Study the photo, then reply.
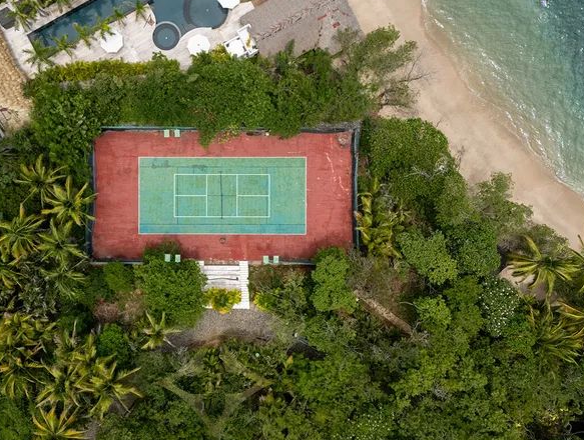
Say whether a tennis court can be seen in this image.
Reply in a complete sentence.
Yes, the photo shows a tennis court.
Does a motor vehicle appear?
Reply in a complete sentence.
No, I find no motor vehicle anywhere in the image.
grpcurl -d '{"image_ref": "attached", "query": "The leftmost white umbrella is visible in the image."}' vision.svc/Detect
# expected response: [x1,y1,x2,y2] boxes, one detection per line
[101,32,123,54]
